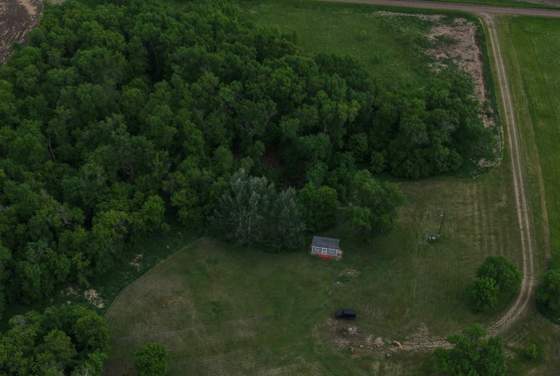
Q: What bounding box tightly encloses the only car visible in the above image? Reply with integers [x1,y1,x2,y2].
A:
[334,307,357,320]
